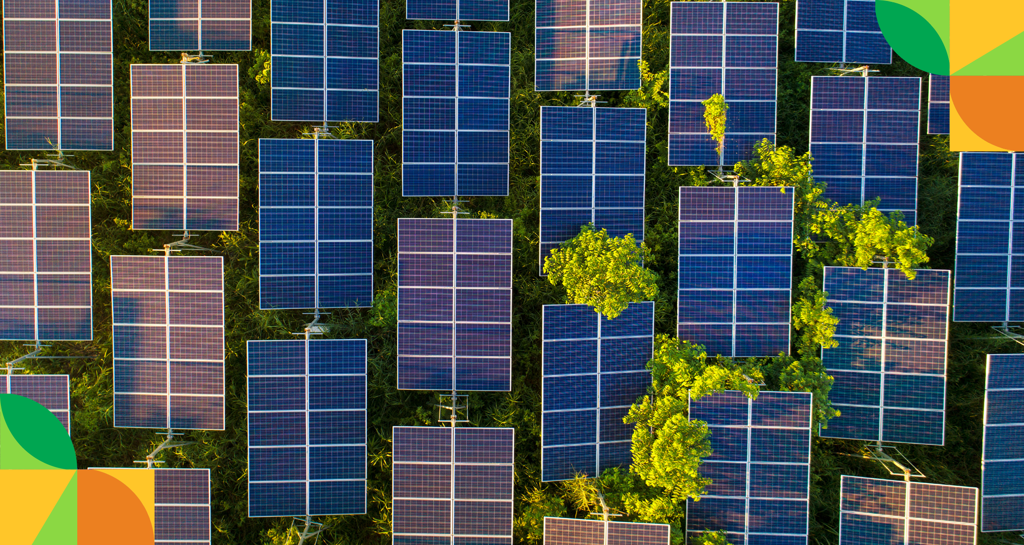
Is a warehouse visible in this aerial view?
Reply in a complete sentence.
No, I find no warehouse anywhere in the image.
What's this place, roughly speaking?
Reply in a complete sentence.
This looks like a solar farm.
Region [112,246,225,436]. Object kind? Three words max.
solar array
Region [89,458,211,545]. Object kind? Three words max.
solar array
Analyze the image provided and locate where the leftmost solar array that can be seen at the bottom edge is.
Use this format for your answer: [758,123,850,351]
[0,364,73,545]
